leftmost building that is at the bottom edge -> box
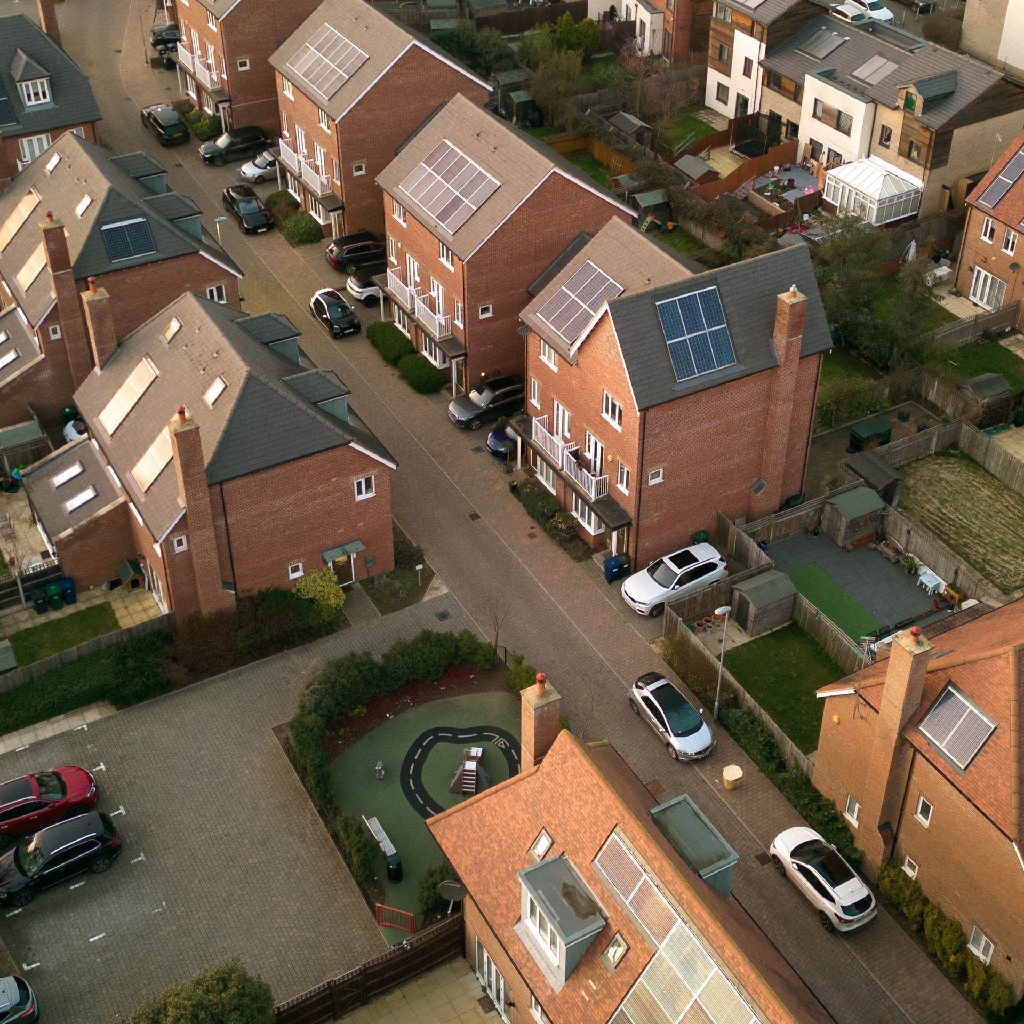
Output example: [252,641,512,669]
[422,672,834,1024]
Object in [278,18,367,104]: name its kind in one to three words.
solar array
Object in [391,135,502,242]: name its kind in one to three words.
solar array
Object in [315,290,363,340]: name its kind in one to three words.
car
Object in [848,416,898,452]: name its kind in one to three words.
building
